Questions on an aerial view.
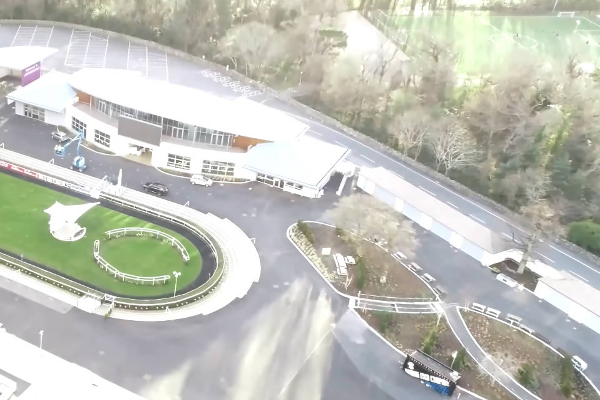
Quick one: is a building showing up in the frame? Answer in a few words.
Yes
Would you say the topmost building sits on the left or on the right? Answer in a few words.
left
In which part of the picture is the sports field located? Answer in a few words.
top right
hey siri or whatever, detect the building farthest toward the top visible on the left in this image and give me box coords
[51,67,309,178]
